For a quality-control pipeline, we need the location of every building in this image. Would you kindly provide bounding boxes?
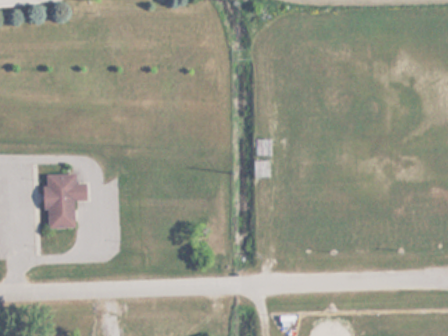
[44,175,88,230]
[280,316,298,332]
